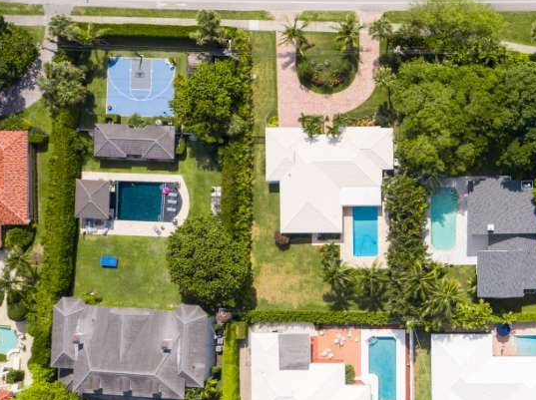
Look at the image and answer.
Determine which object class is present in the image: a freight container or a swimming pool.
swimming pool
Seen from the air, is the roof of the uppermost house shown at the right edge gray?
Yes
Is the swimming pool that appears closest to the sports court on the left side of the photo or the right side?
left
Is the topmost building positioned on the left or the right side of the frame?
left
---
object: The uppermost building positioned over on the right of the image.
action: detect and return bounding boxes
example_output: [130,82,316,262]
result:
[266,126,394,233]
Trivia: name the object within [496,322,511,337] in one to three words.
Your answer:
umbrella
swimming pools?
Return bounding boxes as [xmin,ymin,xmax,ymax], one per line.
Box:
[511,333,536,356]
[428,179,460,251]
[0,323,20,356]
[117,180,164,222]
[351,206,379,258]
[367,335,398,400]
